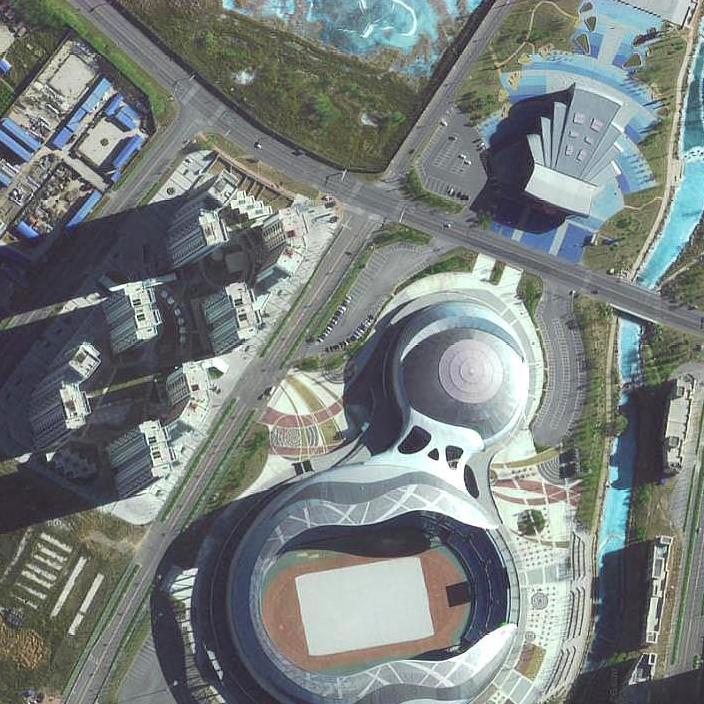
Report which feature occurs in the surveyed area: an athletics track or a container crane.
athletics track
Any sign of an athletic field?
Yes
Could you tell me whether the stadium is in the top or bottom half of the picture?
bottom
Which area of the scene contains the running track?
bottom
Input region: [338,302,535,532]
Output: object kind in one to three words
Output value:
building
